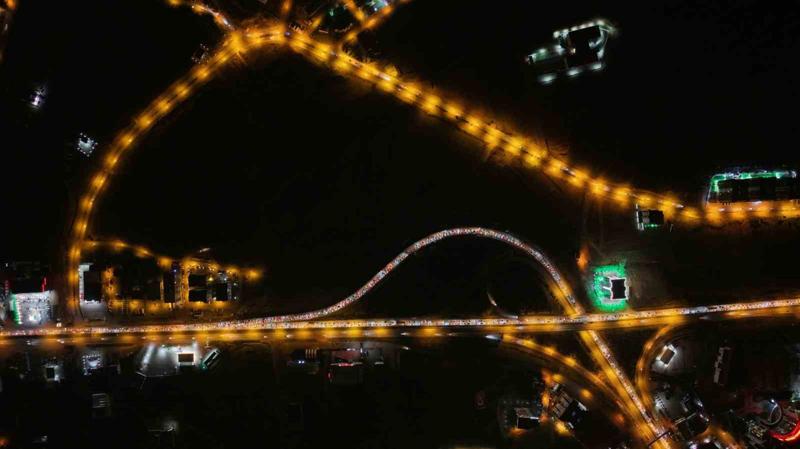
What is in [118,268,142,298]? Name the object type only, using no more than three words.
building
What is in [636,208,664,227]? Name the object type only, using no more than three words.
building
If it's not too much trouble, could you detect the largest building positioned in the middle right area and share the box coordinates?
[714,177,798,202]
